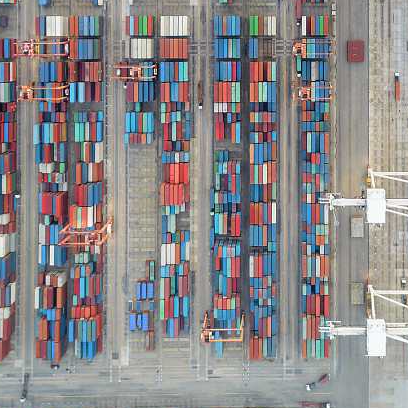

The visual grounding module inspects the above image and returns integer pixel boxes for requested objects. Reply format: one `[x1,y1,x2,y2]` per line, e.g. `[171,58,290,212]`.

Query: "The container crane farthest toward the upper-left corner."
[16,39,71,59]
